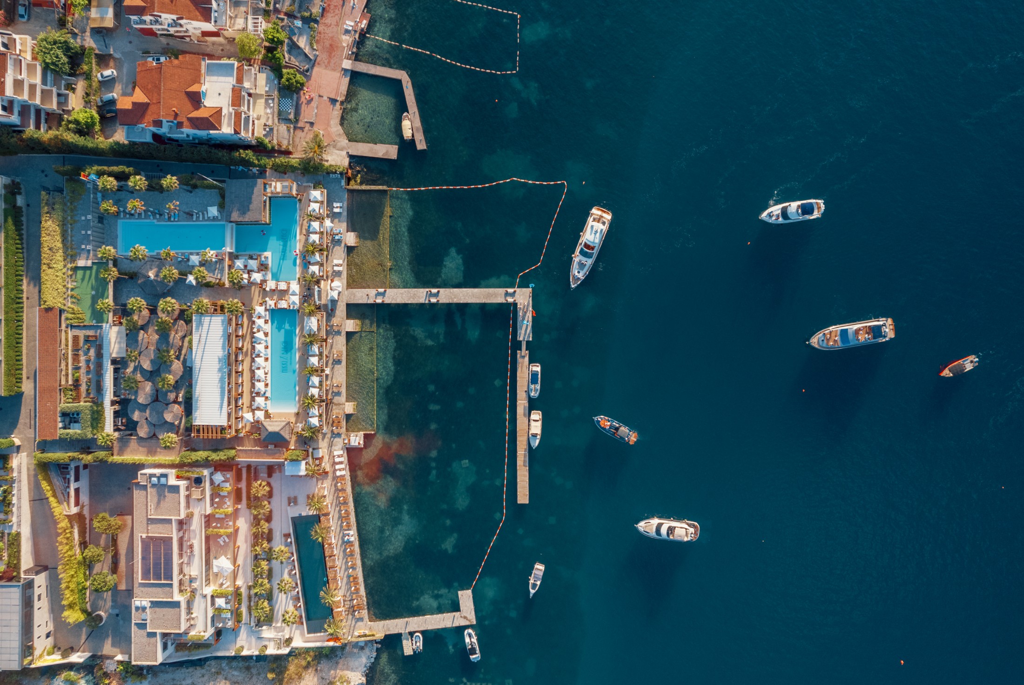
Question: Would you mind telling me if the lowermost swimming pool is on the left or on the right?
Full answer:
The lowermost swimming pool sits on the left side.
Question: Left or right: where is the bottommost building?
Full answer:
The bottommost building is on the left side of the image.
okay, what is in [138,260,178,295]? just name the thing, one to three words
gazebo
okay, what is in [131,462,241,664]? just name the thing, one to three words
building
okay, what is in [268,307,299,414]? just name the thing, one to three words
swimming pool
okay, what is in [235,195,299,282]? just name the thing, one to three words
swimming pool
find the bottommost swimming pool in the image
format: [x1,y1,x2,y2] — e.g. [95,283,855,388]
[289,507,331,637]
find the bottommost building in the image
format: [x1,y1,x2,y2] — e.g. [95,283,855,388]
[0,567,54,670]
